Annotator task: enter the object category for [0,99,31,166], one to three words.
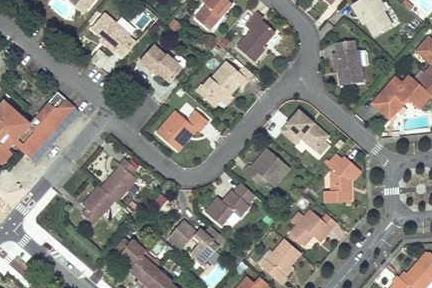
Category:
house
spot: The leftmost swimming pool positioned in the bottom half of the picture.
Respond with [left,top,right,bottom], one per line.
[204,264,225,288]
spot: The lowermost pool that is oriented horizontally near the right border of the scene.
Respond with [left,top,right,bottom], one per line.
[404,116,430,130]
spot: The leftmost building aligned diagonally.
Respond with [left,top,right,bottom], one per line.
[18,100,76,162]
